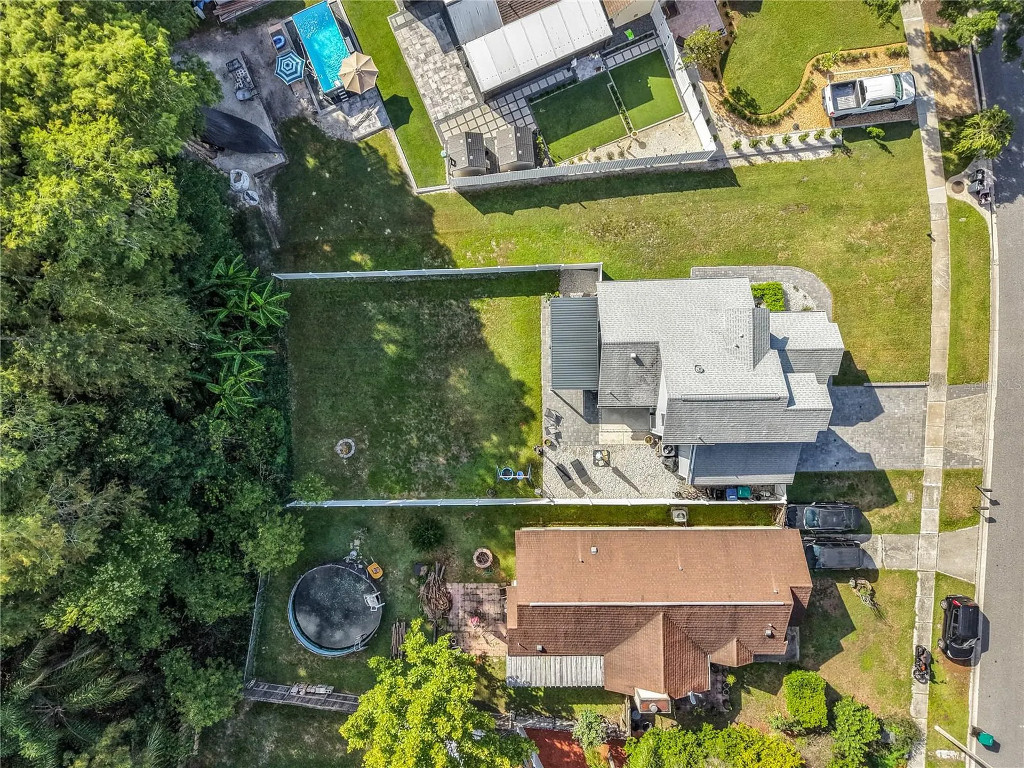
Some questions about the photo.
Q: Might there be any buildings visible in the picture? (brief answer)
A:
Yes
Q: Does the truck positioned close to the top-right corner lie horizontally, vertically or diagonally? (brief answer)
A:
horizontally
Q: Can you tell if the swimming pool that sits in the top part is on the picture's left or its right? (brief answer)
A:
left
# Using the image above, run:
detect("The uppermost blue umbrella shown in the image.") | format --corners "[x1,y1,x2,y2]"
[276,53,306,86]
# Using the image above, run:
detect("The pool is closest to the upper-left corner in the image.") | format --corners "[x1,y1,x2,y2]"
[292,0,350,104]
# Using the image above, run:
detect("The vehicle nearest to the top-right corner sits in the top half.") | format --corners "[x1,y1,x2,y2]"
[815,69,918,122]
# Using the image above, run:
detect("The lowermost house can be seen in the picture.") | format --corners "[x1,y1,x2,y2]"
[507,525,813,715]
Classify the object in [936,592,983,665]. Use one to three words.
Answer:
car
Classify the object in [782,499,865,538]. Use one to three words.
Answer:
car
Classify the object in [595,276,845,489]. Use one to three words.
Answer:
house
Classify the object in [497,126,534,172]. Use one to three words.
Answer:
shed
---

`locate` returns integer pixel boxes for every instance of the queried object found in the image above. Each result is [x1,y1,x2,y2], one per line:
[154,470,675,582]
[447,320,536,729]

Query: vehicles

[815,69,918,122]
[782,499,865,538]
[936,592,983,665]
[801,536,866,573]
[916,647,934,686]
